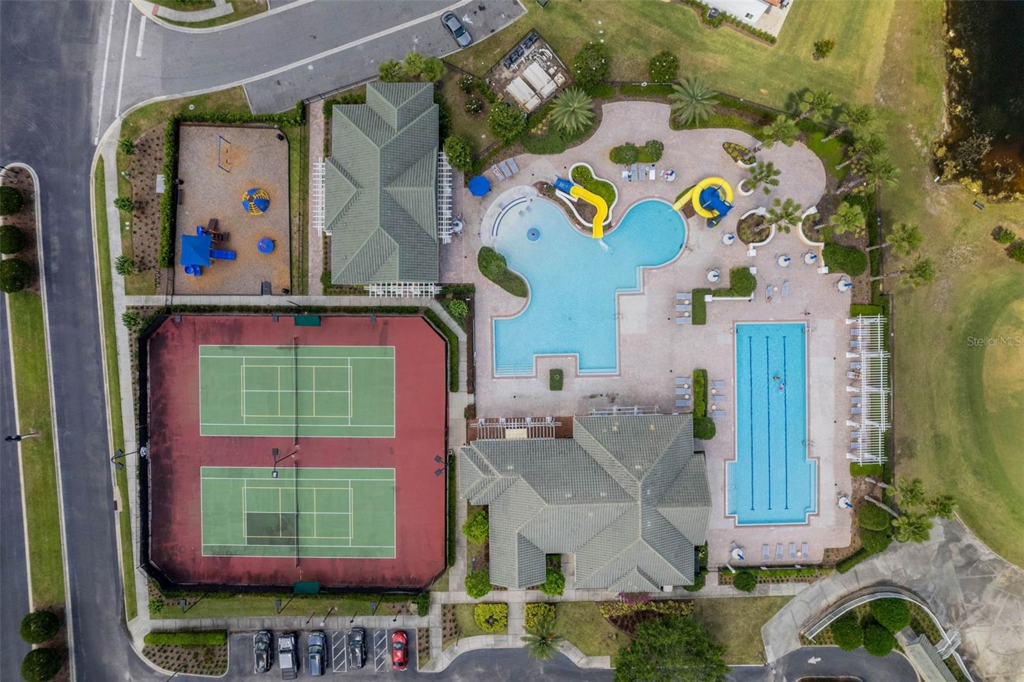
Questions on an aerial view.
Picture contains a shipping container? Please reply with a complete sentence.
No, there is no shipping container in the image.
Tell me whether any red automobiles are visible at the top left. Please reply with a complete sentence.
No, I see no red automobile at the top left.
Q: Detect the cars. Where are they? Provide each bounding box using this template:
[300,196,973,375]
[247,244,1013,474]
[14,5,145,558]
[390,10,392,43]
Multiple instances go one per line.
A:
[346,626,367,668]
[441,9,472,50]
[252,630,274,672]
[306,630,327,674]
[390,630,409,670]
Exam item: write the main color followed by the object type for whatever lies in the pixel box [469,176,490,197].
blue umbrella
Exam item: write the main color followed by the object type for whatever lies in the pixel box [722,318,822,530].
blue swimming pool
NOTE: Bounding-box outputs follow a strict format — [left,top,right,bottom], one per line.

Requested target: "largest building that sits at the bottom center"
[459,415,713,592]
